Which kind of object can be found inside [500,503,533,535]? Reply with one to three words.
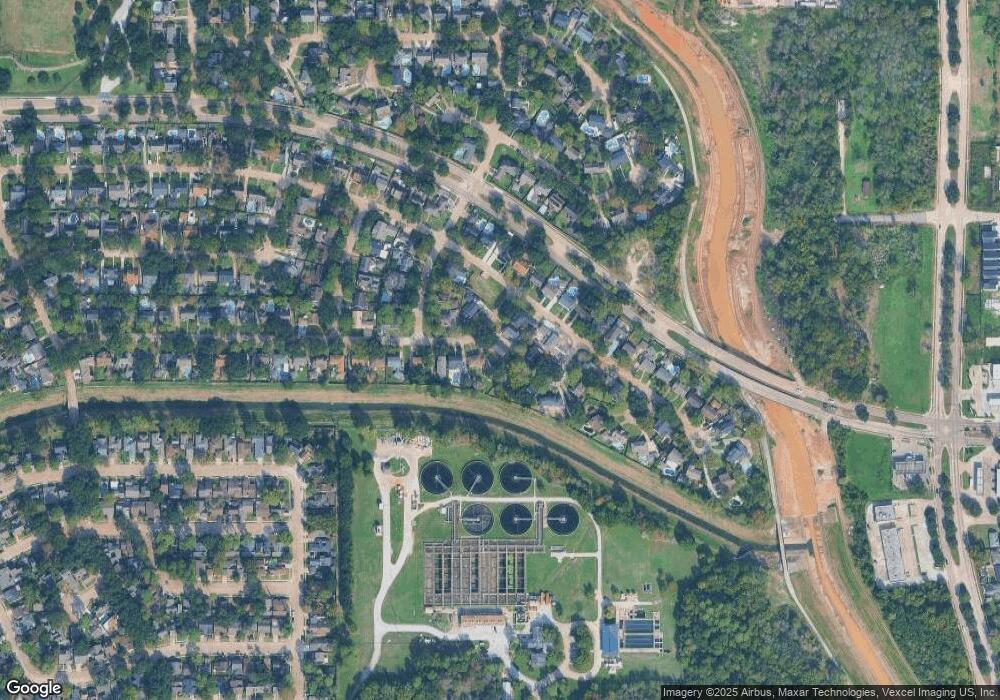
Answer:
storage tank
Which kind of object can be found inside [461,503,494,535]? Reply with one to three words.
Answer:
storage tank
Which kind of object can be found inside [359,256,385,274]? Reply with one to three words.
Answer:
house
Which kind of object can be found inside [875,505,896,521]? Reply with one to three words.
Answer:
building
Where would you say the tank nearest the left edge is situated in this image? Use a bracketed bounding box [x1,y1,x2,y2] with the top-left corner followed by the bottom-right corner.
[421,461,453,493]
